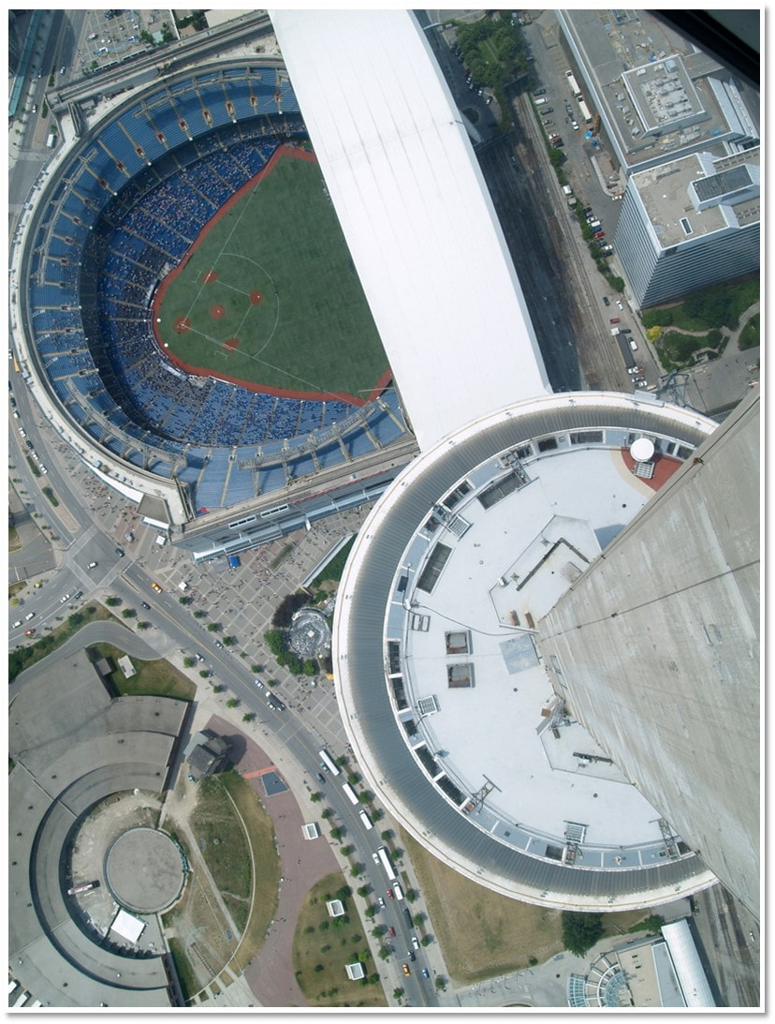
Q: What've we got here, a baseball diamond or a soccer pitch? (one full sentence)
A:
It is a baseball diamond that can be seen here.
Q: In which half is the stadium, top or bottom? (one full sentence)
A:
The stadium sits in the top half of the picture.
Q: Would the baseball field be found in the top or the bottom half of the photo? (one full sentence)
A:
The baseball field sits in the top half of the picture.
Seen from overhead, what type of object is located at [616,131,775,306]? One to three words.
building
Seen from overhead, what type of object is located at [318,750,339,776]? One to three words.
bus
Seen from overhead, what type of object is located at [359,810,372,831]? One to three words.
vehicle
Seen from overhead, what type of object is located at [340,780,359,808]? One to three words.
vehicle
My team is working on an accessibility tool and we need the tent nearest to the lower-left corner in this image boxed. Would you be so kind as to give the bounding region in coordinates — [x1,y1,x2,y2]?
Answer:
[111,908,148,942]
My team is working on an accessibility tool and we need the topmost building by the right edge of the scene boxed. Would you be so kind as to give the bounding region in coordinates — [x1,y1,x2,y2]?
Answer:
[549,0,756,191]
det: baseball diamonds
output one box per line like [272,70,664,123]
[154,146,395,405]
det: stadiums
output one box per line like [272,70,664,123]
[5,0,554,559]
